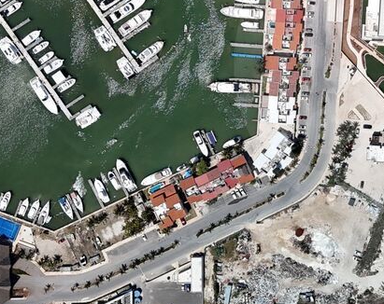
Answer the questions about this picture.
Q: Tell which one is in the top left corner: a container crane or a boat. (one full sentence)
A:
Looking in the top left corner, you will find a boat.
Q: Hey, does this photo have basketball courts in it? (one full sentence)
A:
No, the scene contains no basketball court.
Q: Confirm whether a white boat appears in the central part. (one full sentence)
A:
Yes, a white boat is visible in the central part.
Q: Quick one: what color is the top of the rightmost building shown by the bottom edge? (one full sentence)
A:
The roof over the rightmost building shown by the bottom edge appears white.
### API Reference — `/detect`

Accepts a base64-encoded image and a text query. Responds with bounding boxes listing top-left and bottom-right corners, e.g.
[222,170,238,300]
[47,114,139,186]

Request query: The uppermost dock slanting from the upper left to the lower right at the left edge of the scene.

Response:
[0,13,74,121]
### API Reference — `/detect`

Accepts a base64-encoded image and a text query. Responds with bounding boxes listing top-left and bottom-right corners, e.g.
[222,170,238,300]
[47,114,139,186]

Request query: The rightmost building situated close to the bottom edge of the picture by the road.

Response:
[177,254,206,292]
